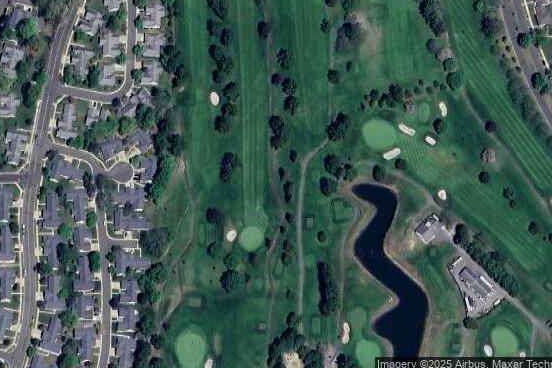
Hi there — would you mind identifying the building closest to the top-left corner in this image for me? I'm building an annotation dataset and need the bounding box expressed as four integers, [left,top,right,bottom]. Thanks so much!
[6,3,28,27]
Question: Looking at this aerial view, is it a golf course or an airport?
golf course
